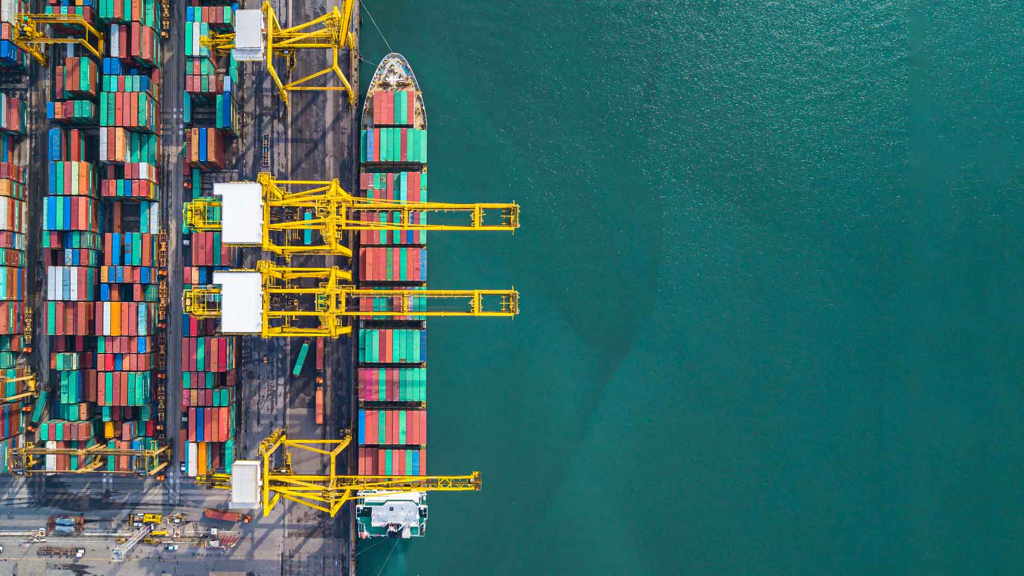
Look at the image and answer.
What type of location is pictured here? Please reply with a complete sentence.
The picture captures a port.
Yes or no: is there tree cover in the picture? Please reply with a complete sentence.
No, there is no tree cover in the image.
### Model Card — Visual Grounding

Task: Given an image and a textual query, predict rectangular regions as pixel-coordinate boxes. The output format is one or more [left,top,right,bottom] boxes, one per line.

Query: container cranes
[0,368,39,398]
[184,176,520,267]
[82,435,175,473]
[192,423,480,517]
[196,0,356,115]
[9,434,106,472]
[183,260,519,340]
[18,14,112,62]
